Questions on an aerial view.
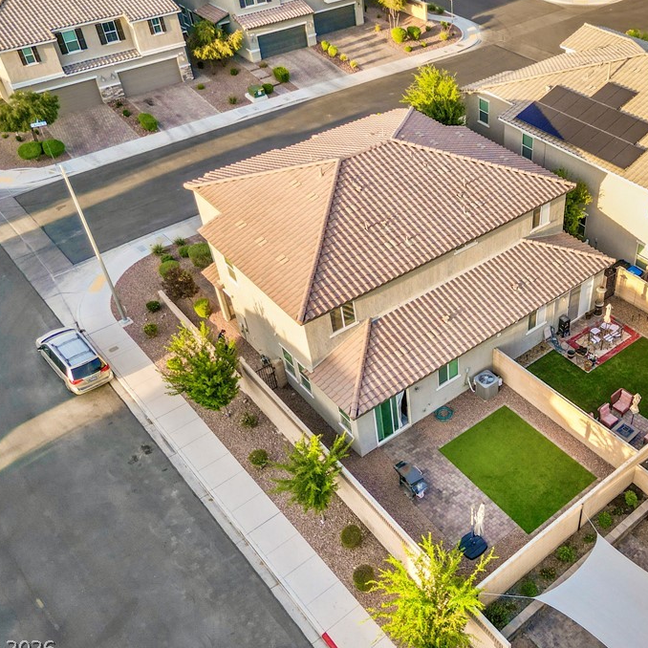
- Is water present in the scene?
No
